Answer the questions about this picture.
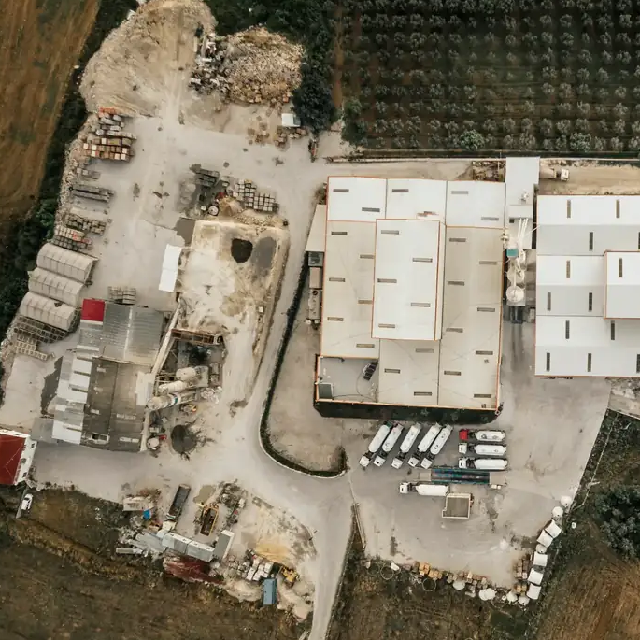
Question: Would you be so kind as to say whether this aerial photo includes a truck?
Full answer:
Yes, this view includes a truck.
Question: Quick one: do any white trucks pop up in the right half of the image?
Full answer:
Yes, I can see a white truck in the right half of the image.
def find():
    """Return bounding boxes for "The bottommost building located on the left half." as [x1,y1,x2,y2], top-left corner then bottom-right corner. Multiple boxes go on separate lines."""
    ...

[121,496,155,512]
